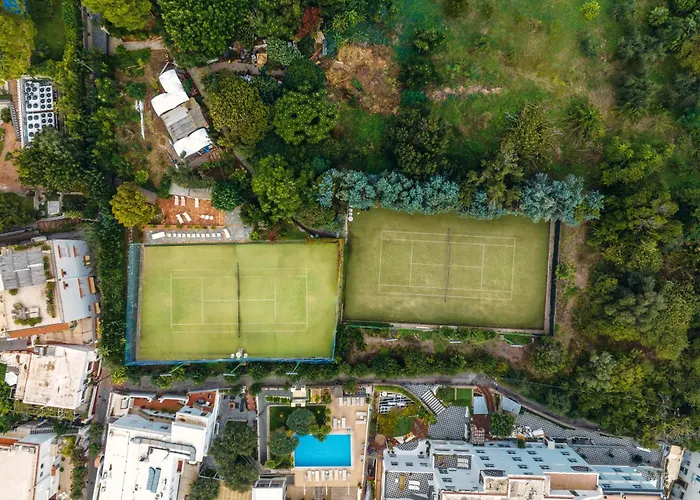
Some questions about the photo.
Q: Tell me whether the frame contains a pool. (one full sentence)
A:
Yes, a pool is visible in the scene.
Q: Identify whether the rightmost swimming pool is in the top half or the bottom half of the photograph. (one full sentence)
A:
Seen from above, the rightmost swimming pool lies in the bottom half of the view.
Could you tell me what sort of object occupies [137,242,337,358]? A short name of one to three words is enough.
tennis court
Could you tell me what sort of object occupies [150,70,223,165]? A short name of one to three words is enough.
shed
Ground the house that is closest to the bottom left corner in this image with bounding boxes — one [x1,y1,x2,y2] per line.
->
[0,425,62,500]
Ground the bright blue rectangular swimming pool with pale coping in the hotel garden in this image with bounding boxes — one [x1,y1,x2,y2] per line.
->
[293,430,353,470]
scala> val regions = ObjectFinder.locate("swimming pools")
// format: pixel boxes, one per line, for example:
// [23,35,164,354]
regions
[0,0,23,14]
[293,430,353,470]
